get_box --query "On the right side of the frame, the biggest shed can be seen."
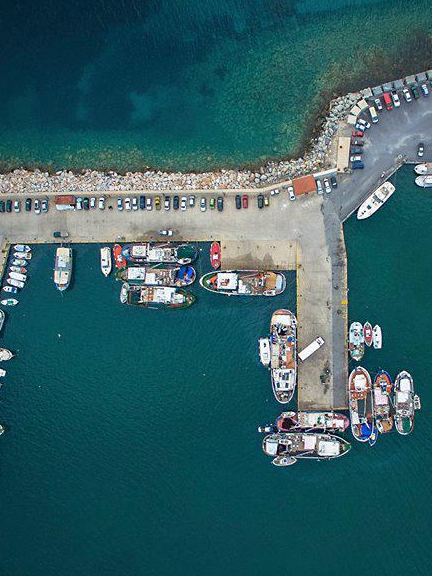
[292,175,317,196]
